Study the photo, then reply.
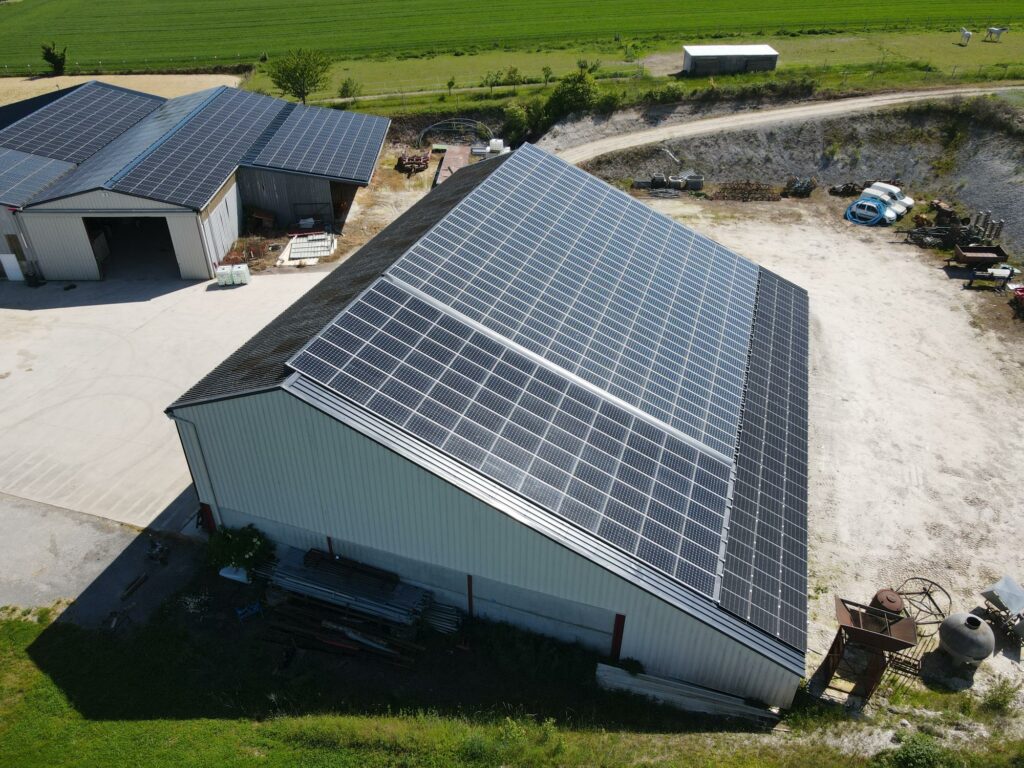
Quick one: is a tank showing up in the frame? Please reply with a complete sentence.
Yes, a tank can be made out from above.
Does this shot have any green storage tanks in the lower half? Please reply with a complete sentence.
No, there is no green storage tank in the lower half.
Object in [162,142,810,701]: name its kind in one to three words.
barn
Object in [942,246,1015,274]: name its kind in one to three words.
trailer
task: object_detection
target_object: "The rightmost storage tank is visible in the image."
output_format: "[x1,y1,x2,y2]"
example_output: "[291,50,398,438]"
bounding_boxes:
[936,614,1000,671]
